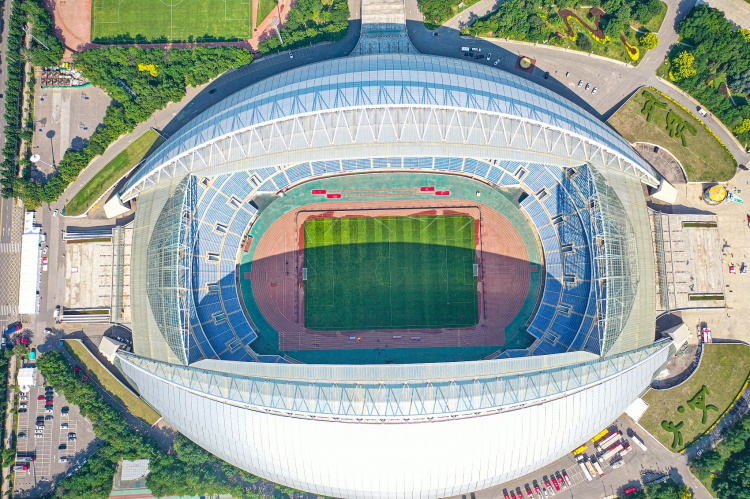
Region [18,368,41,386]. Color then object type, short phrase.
white tent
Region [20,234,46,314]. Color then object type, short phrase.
white tent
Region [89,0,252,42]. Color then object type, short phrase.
green soccer field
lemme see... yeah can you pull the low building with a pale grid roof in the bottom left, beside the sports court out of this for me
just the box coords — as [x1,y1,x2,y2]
[122,459,152,480]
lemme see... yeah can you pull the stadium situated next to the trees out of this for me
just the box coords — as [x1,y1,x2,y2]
[99,51,691,499]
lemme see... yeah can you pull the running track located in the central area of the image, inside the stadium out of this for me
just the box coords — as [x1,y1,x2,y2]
[237,171,544,365]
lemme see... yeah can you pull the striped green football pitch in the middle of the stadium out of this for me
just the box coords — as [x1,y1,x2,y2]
[304,215,479,330]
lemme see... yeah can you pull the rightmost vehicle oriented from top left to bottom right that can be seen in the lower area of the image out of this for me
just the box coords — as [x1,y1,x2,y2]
[632,437,650,452]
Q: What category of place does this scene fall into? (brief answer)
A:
sports ground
